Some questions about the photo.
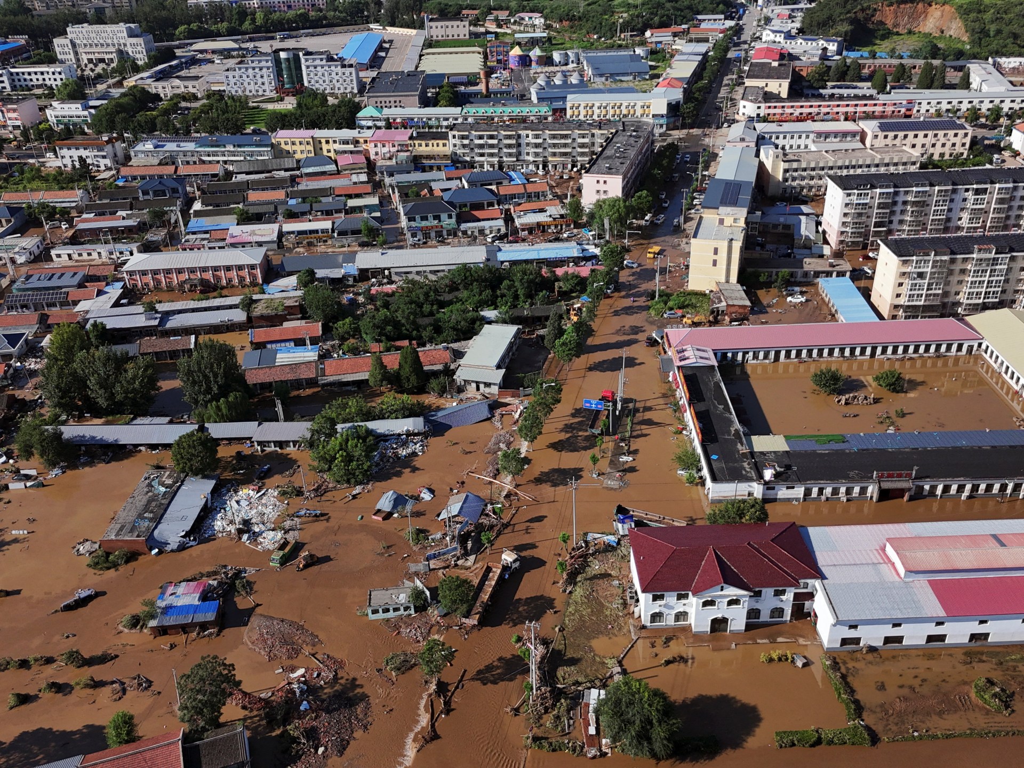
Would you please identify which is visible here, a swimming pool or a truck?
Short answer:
truck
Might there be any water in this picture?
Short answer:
Yes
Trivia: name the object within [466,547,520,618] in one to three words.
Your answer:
truck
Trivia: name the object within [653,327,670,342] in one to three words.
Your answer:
vehicle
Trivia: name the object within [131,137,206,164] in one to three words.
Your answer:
building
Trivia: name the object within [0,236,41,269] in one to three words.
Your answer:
house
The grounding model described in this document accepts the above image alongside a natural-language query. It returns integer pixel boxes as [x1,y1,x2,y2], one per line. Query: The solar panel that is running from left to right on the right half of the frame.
[877,118,965,131]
